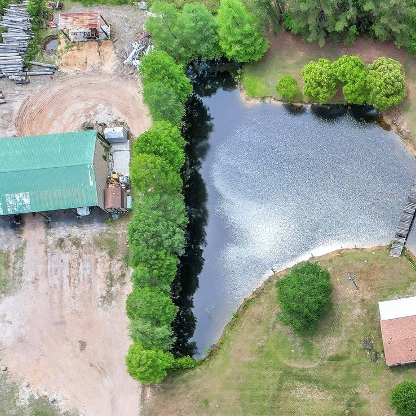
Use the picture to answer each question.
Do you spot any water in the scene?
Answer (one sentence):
Yes, the picture does contain water.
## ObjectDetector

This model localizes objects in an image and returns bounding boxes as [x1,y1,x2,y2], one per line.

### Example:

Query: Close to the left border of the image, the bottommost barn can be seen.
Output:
[0,131,107,224]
